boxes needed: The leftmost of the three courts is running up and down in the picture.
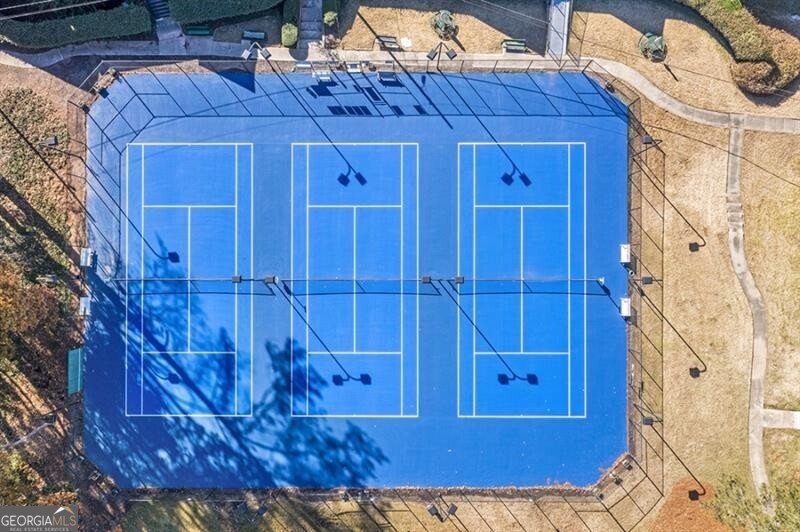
[125,144,252,416]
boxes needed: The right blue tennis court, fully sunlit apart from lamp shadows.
[458,142,586,418]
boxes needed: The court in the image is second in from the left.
[291,143,418,417]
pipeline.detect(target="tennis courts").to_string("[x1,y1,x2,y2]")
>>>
[458,142,586,418]
[125,144,252,416]
[291,143,418,417]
